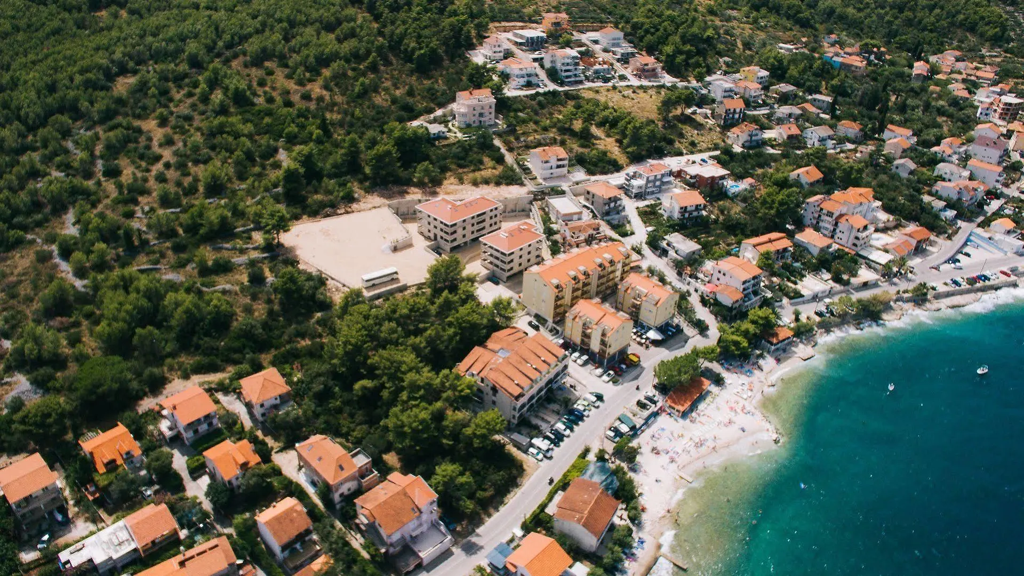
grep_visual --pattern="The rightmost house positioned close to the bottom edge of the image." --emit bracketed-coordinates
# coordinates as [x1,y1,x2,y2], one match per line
[554,478,623,554]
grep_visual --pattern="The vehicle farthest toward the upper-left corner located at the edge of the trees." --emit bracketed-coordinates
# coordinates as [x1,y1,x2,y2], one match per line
[360,269,398,287]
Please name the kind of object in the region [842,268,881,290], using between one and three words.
building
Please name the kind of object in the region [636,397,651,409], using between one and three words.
vehicle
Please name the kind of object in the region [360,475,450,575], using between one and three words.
house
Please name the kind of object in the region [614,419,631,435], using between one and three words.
vehicle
